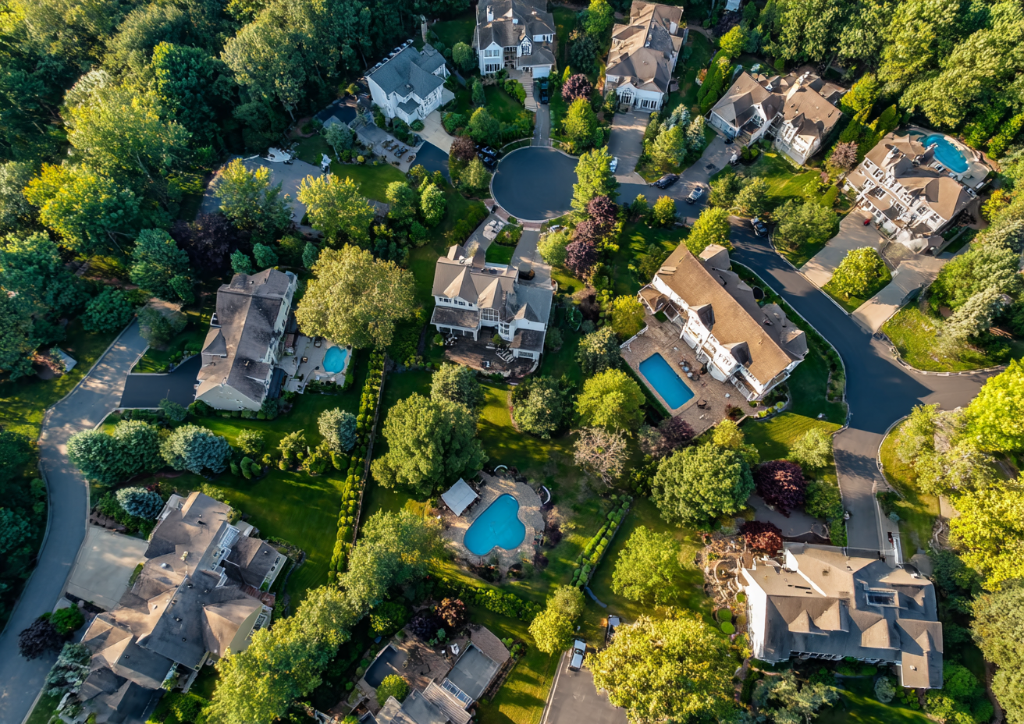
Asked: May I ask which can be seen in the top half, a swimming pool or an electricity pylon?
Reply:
swimming pool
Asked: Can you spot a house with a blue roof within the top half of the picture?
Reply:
Yes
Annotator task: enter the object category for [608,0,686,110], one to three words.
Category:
house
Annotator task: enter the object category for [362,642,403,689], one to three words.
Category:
swimming pool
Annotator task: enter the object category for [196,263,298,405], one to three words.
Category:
house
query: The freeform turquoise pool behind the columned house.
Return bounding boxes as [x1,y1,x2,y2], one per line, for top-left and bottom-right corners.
[916,132,971,175]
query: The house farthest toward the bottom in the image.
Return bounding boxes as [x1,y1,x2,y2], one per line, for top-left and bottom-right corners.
[364,642,499,724]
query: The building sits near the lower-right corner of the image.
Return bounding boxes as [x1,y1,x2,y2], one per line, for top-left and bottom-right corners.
[739,542,946,692]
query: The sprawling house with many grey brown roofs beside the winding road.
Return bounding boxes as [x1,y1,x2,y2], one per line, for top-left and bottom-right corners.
[71,491,293,724]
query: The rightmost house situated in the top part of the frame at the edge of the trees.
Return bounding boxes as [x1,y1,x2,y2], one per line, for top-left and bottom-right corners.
[840,138,968,253]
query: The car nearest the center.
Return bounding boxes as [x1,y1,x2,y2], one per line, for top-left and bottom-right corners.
[518,268,540,283]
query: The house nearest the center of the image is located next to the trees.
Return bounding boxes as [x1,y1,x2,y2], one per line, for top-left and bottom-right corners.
[431,239,552,356]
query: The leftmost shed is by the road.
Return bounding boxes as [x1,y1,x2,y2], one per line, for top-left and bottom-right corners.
[57,345,85,372]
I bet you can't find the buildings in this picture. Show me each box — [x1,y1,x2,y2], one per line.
[365,38,448,127]
[71,491,293,724]
[636,239,810,395]
[608,0,686,110]
[57,345,85,372]
[840,138,968,253]
[431,239,552,356]
[739,542,946,692]
[476,0,557,78]
[196,263,298,405]
[723,0,741,20]
[705,66,851,164]
[364,642,499,724]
